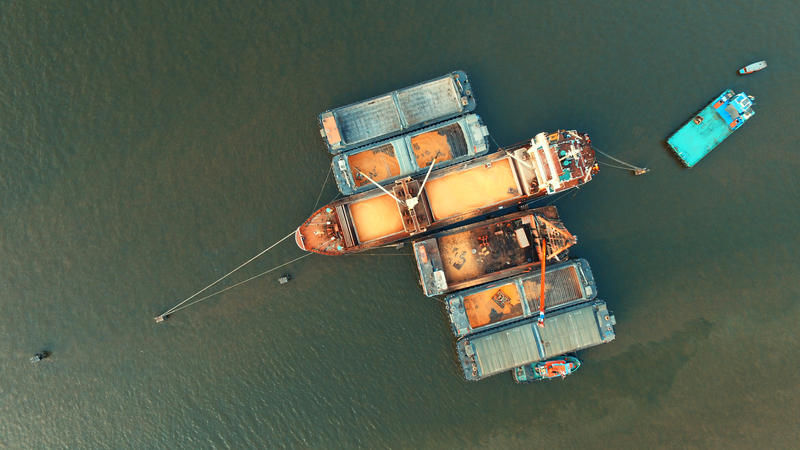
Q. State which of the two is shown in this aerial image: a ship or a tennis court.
ship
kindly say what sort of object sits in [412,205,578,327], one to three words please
ship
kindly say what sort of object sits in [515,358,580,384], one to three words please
boat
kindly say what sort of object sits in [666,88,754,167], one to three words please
ship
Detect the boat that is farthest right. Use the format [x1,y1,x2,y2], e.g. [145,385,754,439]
[735,61,769,74]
